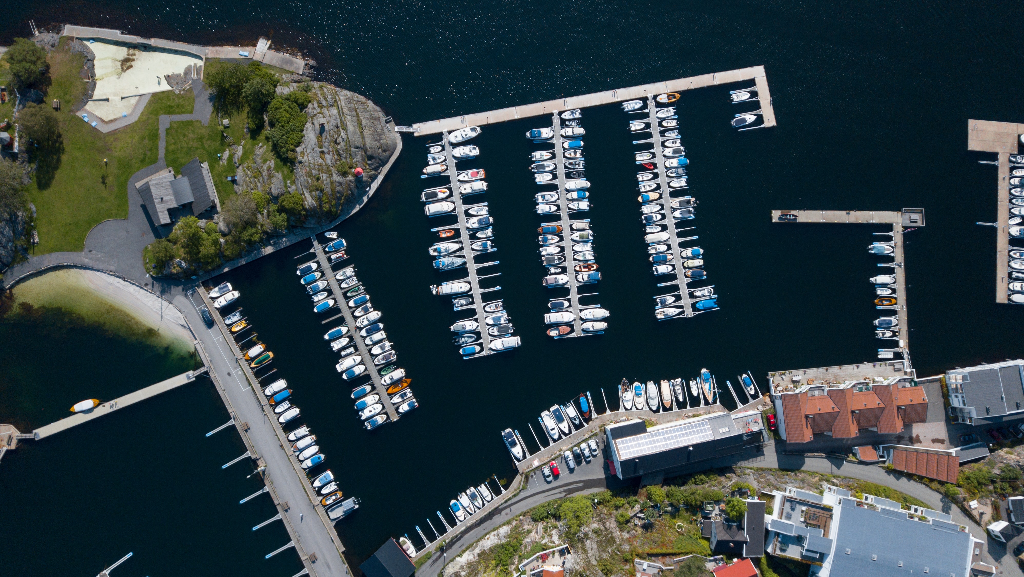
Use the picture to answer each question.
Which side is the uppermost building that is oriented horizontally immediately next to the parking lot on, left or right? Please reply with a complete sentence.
You can find the uppermost building that is oriented horizontally immediately next to the parking lot on the right side of the picture.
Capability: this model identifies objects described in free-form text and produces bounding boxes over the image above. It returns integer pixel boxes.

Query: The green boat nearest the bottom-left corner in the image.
[251,353,274,367]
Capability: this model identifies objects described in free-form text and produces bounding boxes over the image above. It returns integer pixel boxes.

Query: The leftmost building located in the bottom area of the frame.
[359,537,416,577]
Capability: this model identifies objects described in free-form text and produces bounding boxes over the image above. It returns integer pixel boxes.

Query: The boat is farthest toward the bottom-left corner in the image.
[70,399,100,412]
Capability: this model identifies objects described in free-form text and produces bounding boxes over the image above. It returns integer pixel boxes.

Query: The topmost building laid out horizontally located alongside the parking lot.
[603,410,765,478]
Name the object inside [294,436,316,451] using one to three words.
boat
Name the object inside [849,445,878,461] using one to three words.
shed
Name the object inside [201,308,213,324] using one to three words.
vehicle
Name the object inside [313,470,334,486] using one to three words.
boat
